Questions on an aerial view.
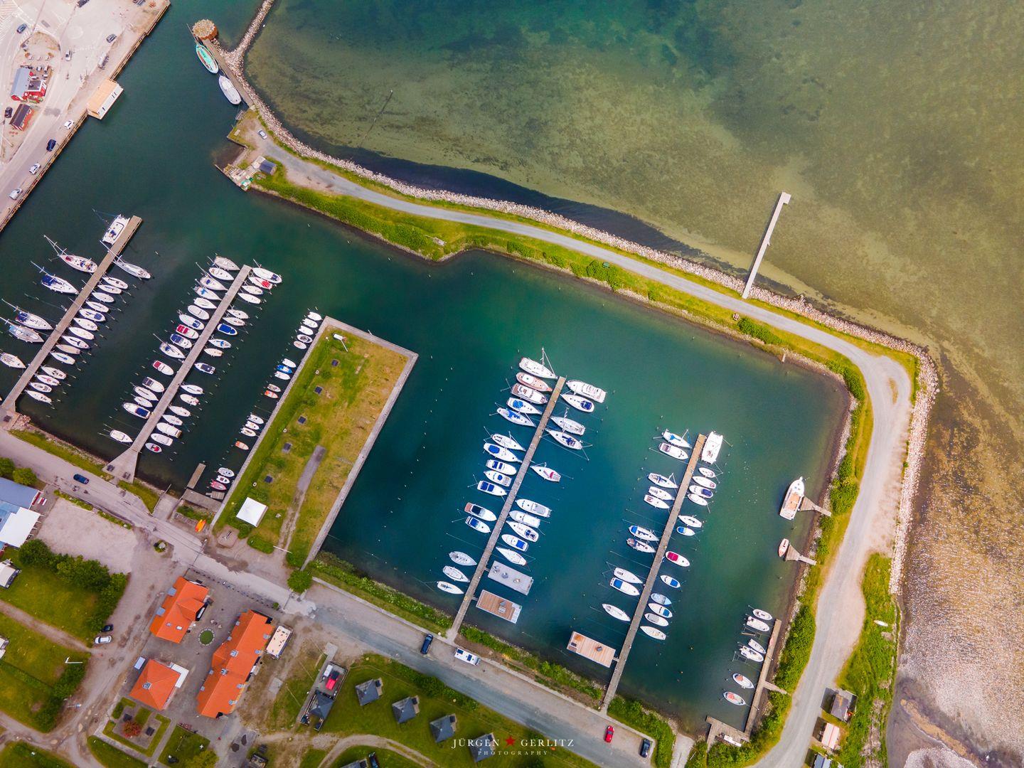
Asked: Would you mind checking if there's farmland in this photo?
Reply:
No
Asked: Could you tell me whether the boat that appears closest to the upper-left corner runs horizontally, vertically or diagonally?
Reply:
diagonally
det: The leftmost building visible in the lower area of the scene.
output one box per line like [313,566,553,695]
[0,478,46,547]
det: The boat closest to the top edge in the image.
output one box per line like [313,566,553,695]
[190,33,219,76]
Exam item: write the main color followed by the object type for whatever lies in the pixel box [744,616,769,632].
white boat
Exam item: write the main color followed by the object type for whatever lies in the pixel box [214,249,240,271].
white boat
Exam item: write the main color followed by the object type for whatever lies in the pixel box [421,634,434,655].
blue vehicle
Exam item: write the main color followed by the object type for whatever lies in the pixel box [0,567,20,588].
white camper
